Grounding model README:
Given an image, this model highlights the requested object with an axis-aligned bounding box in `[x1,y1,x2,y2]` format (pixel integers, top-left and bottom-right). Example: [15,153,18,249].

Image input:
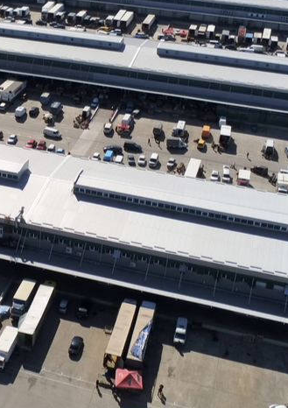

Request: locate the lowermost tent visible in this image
[113,371,143,400]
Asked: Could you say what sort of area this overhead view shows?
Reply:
industrial area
